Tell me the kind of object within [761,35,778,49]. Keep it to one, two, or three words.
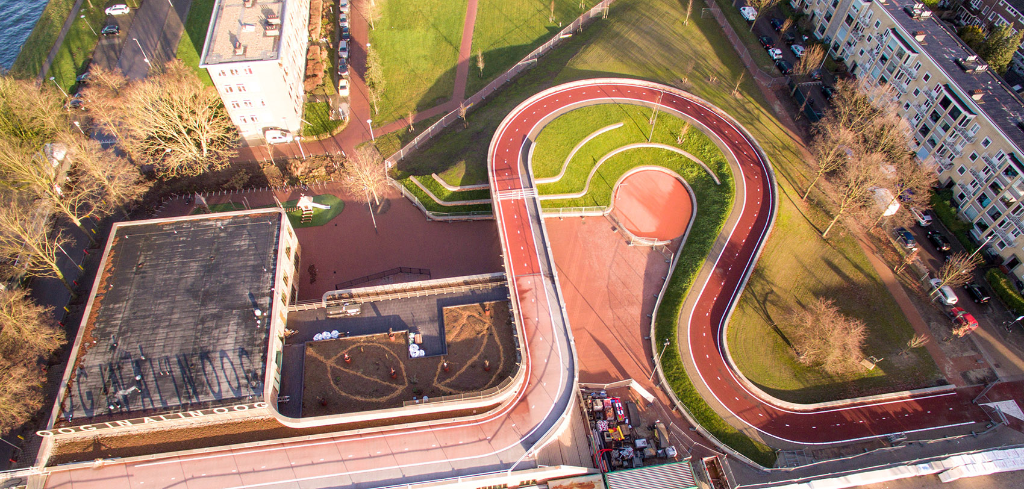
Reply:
car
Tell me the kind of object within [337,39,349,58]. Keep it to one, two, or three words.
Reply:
vehicle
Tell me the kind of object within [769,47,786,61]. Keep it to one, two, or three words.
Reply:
car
